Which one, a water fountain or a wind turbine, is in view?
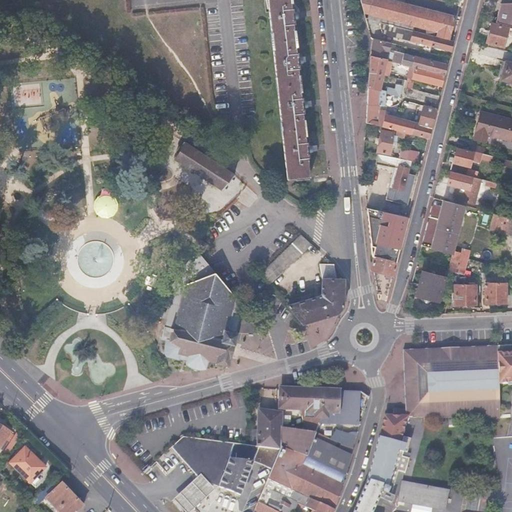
water fountain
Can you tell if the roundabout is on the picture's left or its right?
right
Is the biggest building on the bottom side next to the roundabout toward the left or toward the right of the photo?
right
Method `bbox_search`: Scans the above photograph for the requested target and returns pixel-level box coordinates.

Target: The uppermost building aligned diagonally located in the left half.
[176,142,234,190]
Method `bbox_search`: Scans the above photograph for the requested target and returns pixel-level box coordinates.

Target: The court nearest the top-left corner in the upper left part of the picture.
[16,84,43,106]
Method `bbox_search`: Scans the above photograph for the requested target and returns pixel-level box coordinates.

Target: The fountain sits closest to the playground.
[67,231,124,288]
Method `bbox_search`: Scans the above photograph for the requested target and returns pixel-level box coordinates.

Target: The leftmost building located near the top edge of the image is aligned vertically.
[264,0,318,182]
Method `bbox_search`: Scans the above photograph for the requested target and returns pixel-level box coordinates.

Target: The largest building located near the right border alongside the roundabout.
[404,346,499,418]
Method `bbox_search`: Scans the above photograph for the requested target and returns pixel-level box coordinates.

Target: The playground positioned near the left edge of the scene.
[10,78,80,149]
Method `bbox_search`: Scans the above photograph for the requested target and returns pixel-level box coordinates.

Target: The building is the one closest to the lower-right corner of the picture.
[398,480,450,512]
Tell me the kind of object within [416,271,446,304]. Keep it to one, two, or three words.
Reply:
house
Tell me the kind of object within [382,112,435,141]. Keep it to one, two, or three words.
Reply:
house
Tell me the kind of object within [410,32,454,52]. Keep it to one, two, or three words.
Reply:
shed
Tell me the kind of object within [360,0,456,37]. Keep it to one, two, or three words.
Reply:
building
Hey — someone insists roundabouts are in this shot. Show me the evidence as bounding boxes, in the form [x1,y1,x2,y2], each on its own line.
[316,296,412,382]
